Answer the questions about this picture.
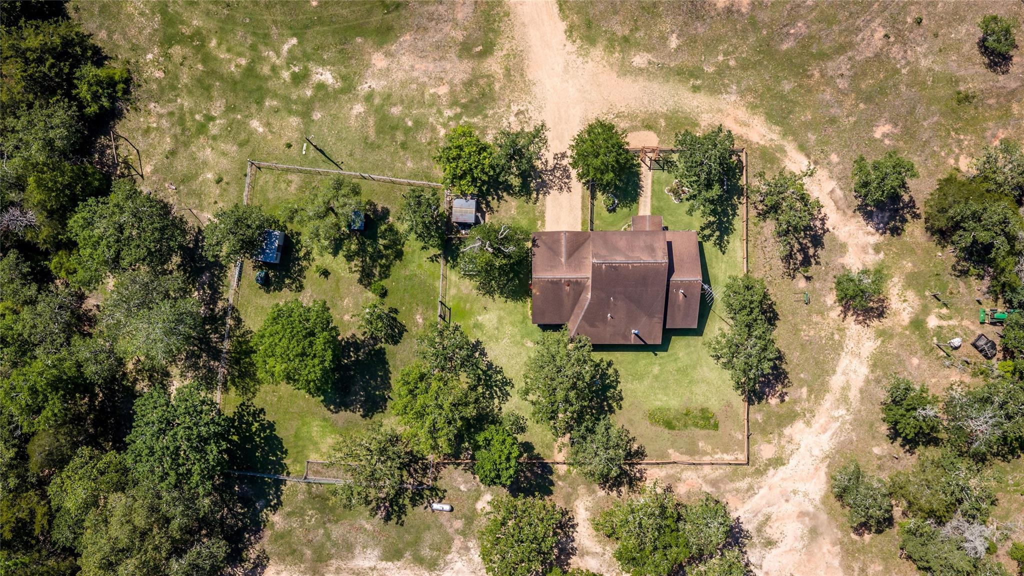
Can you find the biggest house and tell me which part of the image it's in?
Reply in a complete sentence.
The biggest house is in the center part of the image.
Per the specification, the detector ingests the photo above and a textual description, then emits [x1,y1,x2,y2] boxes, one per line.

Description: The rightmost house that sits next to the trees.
[531,215,703,344]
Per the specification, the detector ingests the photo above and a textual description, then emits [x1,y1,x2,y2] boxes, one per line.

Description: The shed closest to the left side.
[256,231,293,263]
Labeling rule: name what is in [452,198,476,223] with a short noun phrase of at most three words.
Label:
shed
